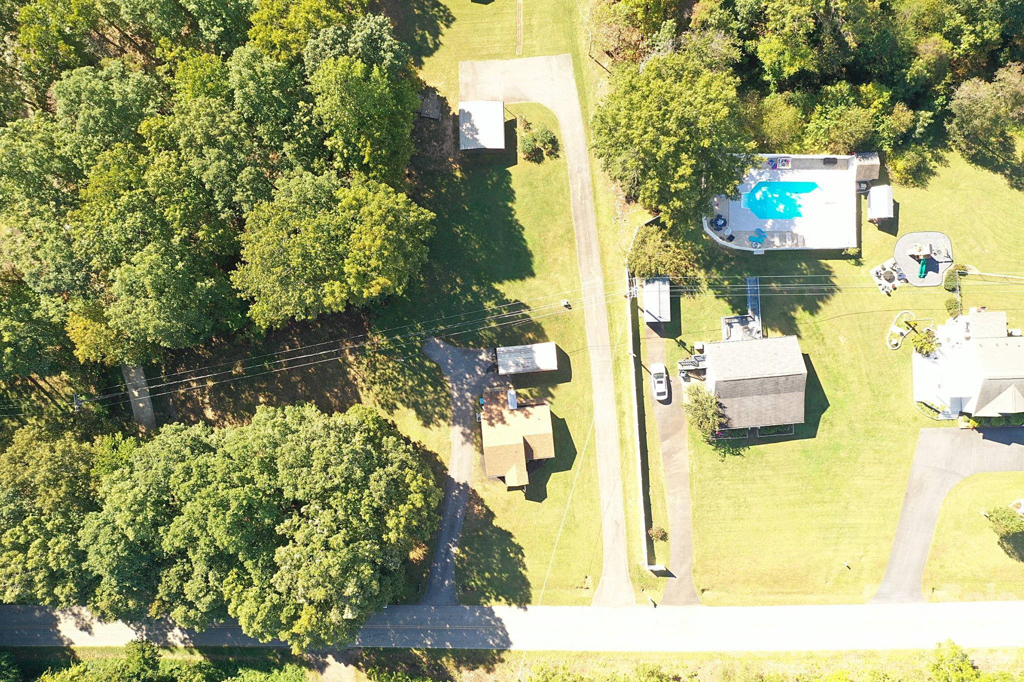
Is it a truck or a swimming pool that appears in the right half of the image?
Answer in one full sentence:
The feature located in the right half of the image is a swimming pool.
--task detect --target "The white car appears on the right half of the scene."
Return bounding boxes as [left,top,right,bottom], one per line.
[651,364,670,402]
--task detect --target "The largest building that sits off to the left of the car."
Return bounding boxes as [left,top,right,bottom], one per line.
[481,389,555,486]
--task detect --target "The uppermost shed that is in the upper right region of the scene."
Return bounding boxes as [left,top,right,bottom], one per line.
[848,151,882,182]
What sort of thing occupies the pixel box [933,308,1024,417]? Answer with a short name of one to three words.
house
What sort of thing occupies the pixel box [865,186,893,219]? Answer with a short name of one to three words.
shed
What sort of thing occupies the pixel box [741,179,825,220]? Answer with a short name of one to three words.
swimming pool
